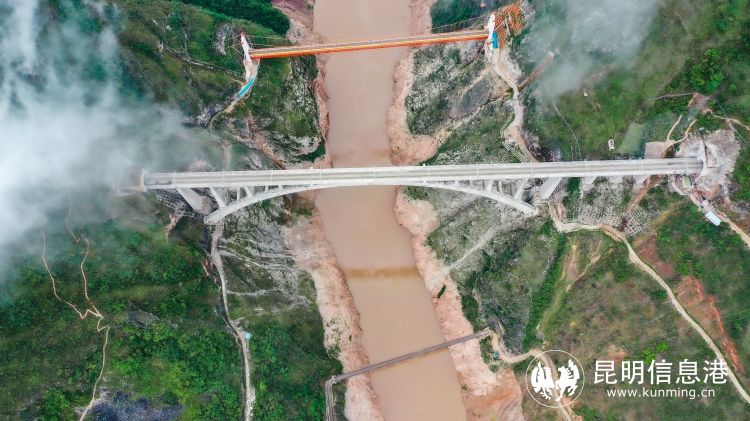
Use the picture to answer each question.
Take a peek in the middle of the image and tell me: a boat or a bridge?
bridge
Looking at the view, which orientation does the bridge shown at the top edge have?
from left to right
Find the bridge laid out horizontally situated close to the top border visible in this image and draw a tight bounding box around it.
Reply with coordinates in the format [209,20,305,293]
[218,4,514,76]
